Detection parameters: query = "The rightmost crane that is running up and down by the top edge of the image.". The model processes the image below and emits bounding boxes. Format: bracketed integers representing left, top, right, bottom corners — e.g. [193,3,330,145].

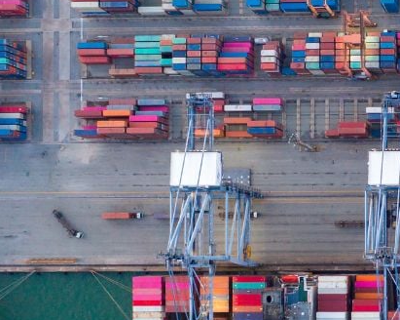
[344,11,376,80]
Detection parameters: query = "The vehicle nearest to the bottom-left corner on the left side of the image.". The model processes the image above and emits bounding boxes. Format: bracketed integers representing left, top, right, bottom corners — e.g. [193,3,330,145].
[53,209,86,239]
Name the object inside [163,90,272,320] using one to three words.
container crane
